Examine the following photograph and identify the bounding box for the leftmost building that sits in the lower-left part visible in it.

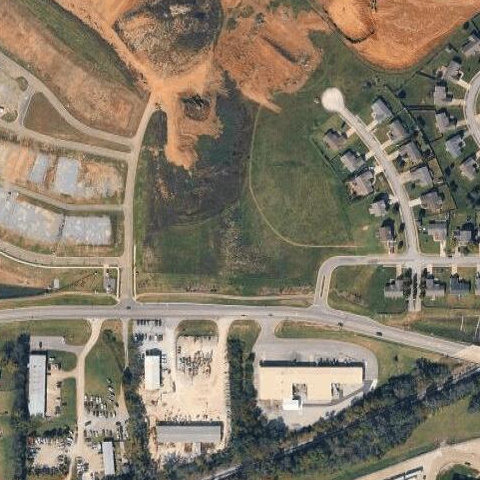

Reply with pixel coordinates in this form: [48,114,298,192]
[29,352,46,416]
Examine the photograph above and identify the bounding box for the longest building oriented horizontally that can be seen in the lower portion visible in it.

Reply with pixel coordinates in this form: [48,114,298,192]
[260,366,364,400]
